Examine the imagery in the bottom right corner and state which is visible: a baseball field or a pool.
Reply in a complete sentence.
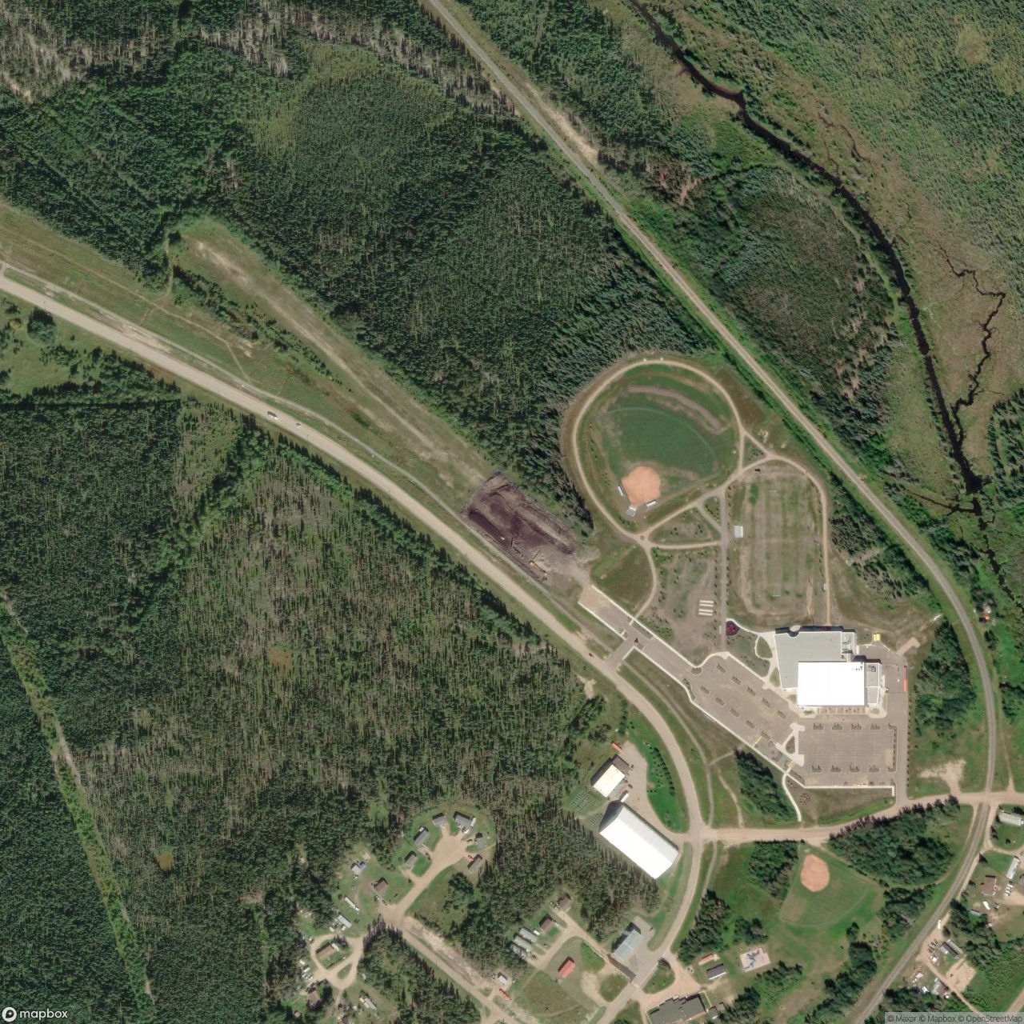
You can see a baseball field in the bottom right corner.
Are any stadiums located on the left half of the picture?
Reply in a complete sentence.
No, looking on the left half of the picture, there is no stadium.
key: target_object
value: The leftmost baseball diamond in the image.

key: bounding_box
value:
[596,384,720,507]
